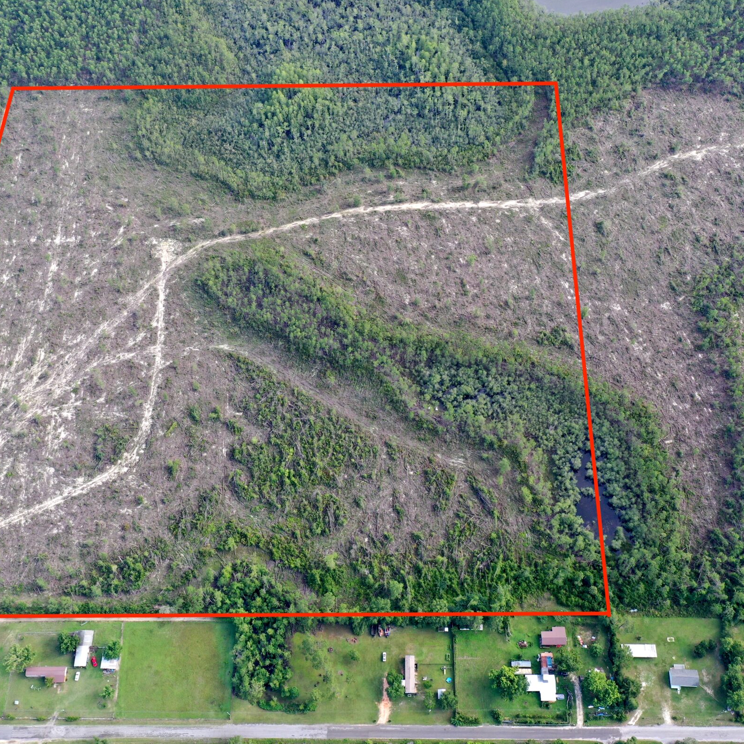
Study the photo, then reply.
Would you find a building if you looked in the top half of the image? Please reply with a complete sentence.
No, no building is visible in the top half of the image.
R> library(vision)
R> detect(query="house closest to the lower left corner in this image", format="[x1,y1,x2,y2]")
[25,666,68,683]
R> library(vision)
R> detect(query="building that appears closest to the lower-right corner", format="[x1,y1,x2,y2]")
[669,664,701,693]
